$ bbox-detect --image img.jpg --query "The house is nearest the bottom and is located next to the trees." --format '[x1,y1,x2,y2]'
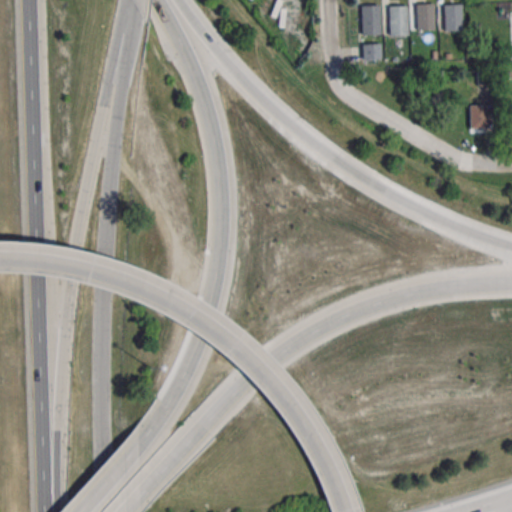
[469,106,488,132]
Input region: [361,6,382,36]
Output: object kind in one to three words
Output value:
house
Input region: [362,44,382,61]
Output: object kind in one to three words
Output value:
building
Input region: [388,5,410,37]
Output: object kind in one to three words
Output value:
house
